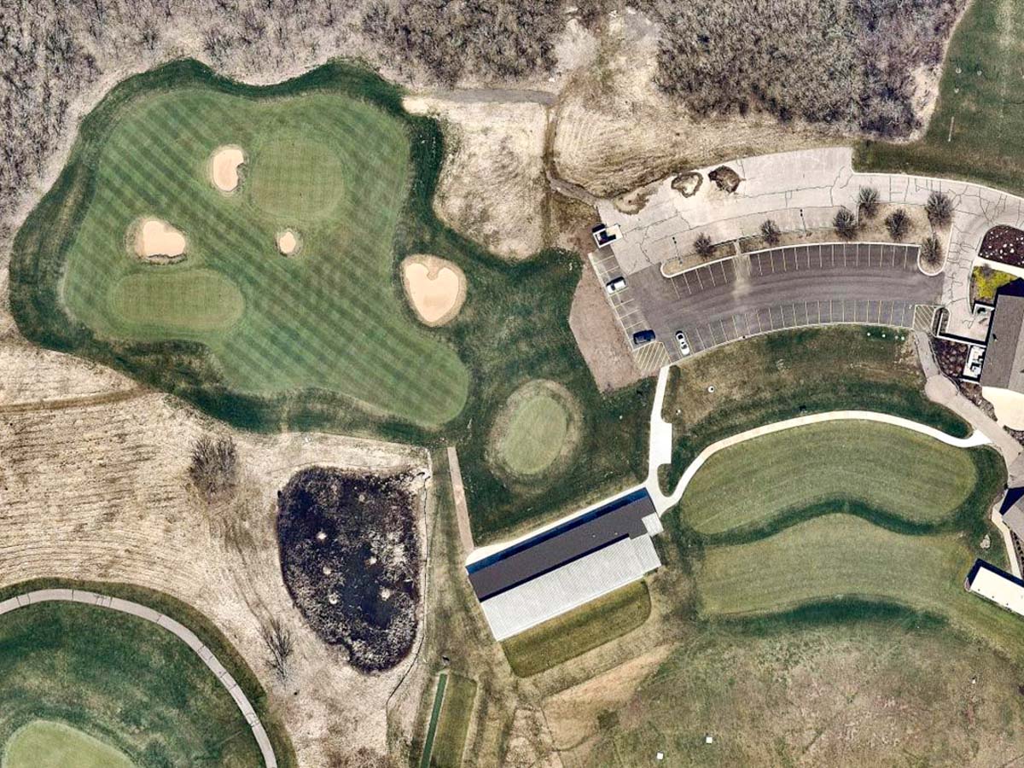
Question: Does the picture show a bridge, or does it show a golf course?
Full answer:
The image shows a golf course.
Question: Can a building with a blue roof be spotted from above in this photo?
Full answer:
No, there isn't any building with a blue roof down there.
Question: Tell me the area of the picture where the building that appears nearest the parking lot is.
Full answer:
You can find the building that appears nearest the parking lot in the right area of the picture.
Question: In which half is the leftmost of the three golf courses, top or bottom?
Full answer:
Seen from above, the leftmost of the three golf courses lies in the bottom half of the view.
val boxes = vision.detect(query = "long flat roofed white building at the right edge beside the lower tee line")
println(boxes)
[970,567,1024,615]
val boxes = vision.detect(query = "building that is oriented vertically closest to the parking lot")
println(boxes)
[980,294,1024,391]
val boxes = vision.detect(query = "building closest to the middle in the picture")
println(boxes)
[469,495,664,641]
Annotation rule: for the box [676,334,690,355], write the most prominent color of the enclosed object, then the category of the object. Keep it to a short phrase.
white car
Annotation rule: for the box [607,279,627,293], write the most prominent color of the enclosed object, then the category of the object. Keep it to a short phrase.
white car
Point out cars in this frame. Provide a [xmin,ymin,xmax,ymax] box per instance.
[634,331,656,345]
[676,334,690,355]
[607,279,627,293]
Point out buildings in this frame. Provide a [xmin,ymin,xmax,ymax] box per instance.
[469,495,664,641]
[1002,496,1024,540]
[980,294,1024,391]
[970,567,1024,615]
